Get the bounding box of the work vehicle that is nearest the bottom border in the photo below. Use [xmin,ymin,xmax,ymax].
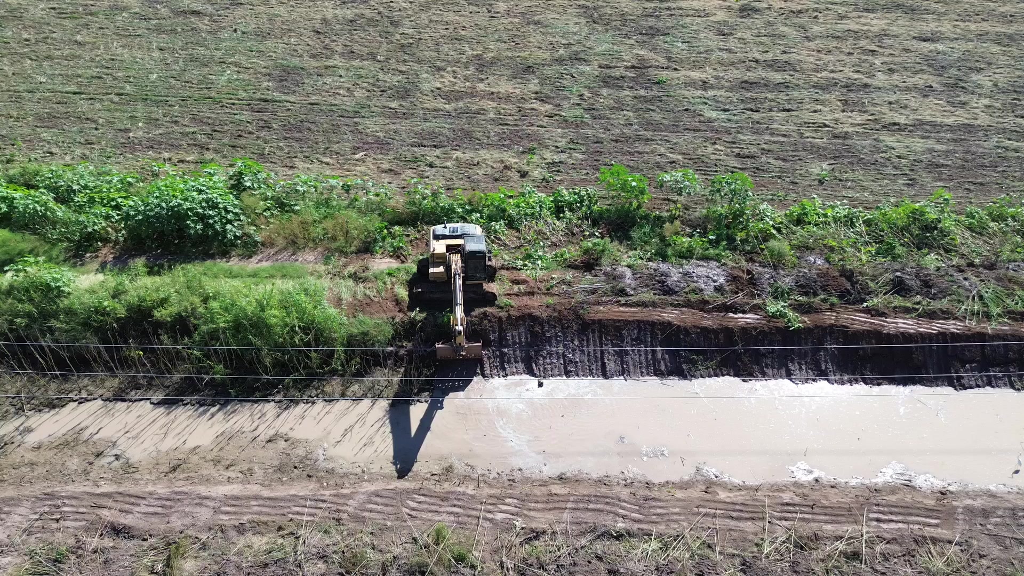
[412,218,499,358]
